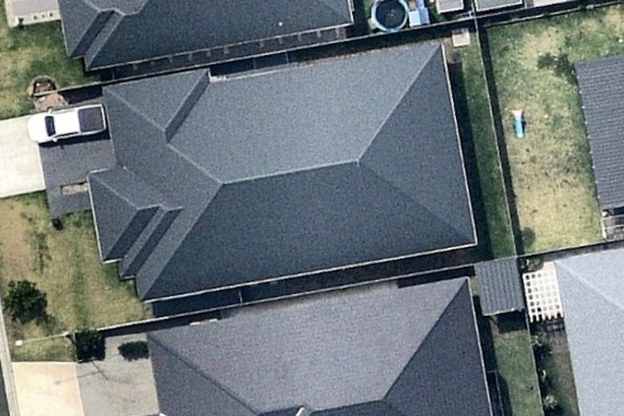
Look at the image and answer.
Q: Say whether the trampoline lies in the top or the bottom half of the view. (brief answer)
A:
top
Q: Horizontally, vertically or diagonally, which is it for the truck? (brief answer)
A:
horizontally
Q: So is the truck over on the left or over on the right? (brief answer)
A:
left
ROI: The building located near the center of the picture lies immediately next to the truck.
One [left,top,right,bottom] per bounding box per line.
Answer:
[86,41,478,304]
